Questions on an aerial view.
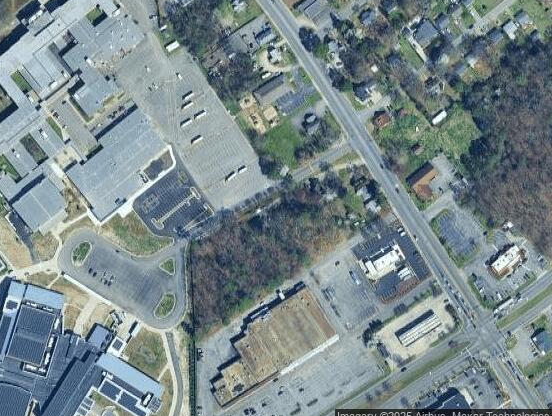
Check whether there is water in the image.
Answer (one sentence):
No, no water is visible.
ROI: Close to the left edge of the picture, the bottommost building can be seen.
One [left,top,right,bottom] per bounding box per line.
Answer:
[0,280,165,416]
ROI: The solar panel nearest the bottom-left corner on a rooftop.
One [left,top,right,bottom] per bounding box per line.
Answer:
[0,315,13,353]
